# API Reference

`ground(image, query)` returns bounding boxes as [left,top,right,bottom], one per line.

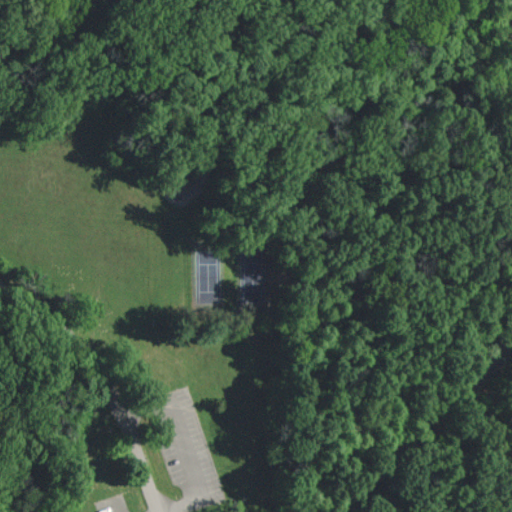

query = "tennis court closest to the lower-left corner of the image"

[194,250,221,308]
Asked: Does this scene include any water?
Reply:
No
